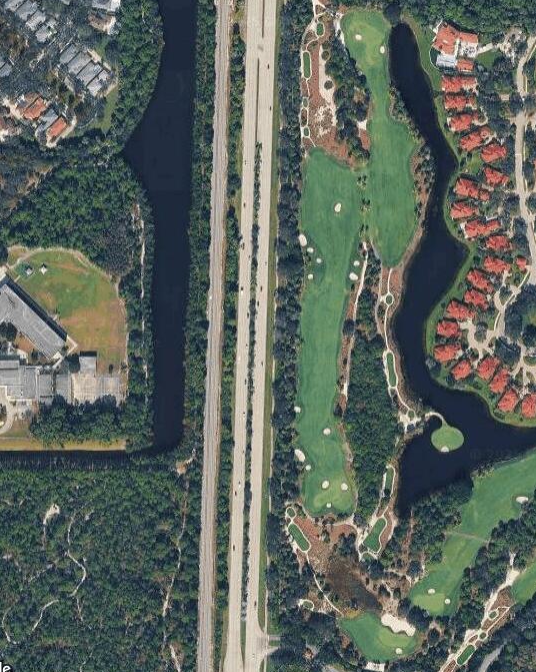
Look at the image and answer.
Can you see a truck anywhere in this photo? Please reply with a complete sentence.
No, the frame has no truck in it.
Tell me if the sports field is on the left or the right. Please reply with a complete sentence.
The sports field sits on the left side.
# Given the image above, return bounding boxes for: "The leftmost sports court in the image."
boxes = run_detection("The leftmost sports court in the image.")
[72,377,97,399]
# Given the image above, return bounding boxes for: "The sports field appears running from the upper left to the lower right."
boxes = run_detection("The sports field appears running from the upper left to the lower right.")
[7,247,128,378]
